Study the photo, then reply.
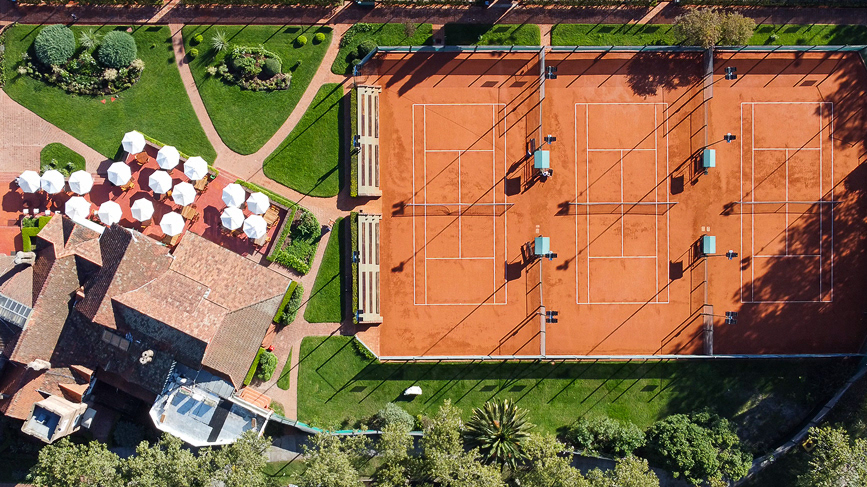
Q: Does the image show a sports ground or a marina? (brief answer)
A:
sports ground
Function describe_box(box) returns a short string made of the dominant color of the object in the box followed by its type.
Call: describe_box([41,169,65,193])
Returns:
white umbrella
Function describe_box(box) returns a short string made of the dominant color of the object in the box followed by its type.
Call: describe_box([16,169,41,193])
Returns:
white umbrella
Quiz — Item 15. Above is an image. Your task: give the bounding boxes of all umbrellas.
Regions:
[246,191,270,215]
[130,196,156,221]
[171,181,196,206]
[221,182,246,207]
[97,201,123,225]
[148,169,173,194]
[184,156,207,180]
[160,212,184,235]
[64,196,89,220]
[242,215,266,239]
[157,145,180,169]
[121,130,146,154]
[69,170,92,195]
[16,169,41,193]
[219,206,244,230]
[41,169,65,193]
[107,162,131,186]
